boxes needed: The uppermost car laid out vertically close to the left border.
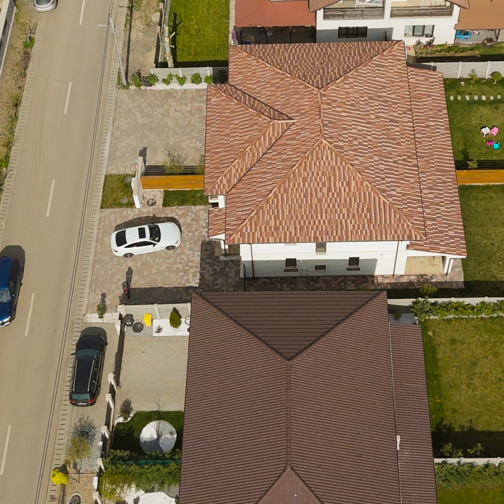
[0,254,30,324]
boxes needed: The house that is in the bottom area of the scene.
[174,287,438,504]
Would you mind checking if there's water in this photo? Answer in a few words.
No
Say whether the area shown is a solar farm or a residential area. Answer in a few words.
residential area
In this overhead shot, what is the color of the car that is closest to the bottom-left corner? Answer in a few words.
black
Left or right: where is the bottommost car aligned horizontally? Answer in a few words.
left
